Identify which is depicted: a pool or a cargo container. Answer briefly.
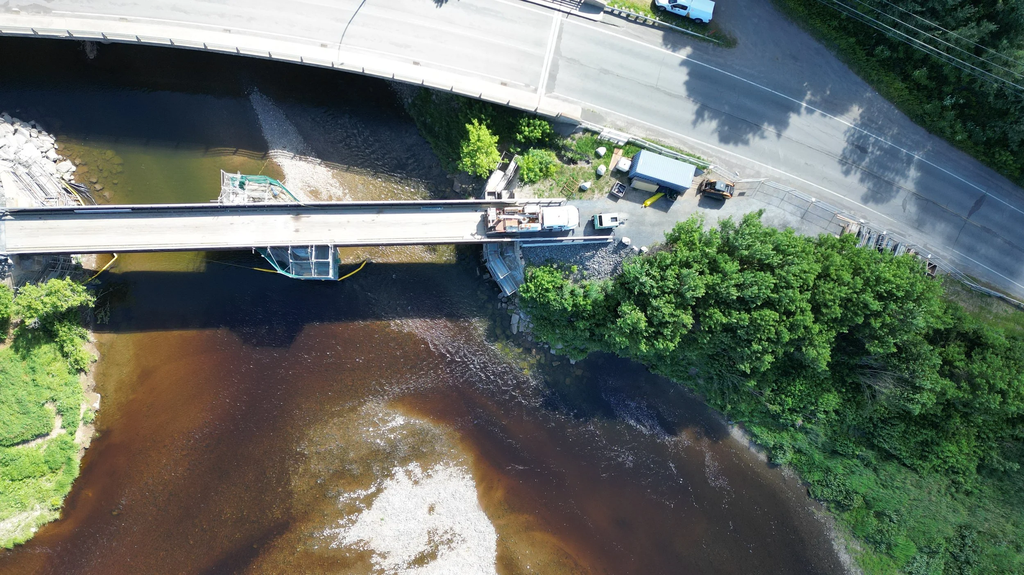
cargo container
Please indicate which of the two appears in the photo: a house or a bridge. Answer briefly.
bridge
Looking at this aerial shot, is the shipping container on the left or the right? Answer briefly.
right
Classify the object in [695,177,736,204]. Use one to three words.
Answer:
work vehicle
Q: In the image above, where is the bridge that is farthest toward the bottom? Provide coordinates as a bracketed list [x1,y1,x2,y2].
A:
[0,195,525,258]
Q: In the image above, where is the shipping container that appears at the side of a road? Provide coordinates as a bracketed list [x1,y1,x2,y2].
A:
[630,149,705,191]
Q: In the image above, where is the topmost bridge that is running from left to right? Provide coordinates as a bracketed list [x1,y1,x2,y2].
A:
[0,0,607,127]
